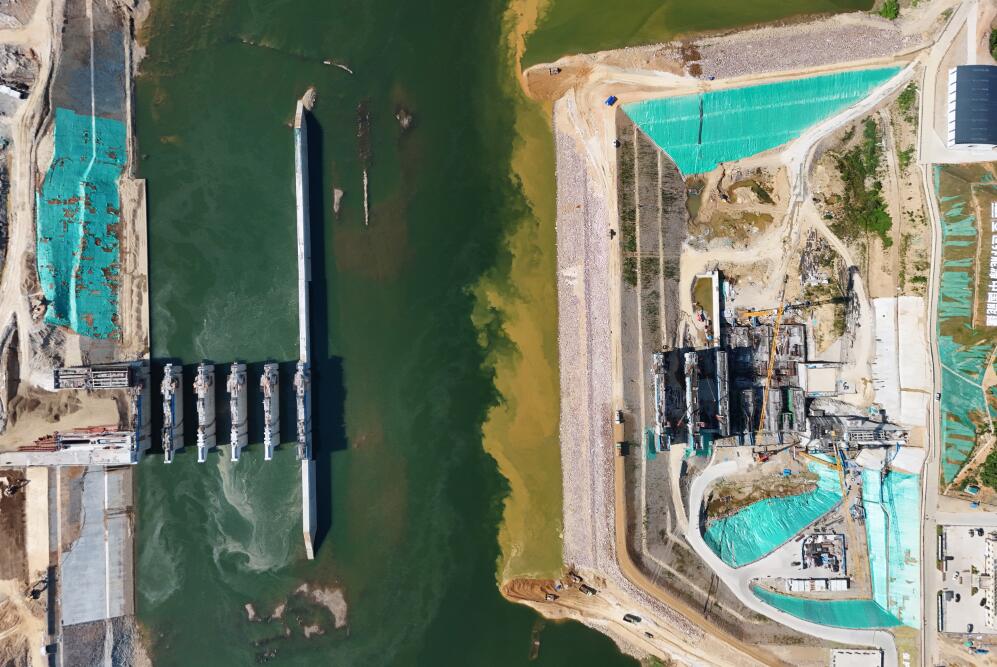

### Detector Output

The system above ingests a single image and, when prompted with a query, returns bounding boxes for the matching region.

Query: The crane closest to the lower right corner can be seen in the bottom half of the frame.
[796,430,854,504]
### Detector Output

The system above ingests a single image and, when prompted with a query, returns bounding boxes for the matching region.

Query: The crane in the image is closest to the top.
[737,256,799,442]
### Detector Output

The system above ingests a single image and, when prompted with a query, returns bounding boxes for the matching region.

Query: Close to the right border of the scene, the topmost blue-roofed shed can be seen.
[944,64,997,150]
